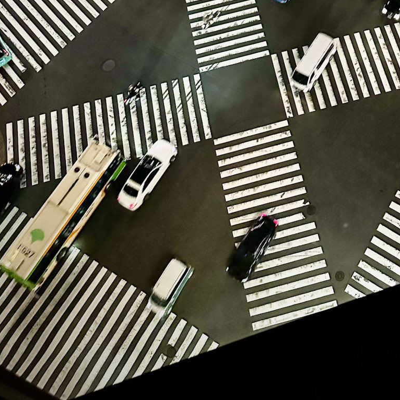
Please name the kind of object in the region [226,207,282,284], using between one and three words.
car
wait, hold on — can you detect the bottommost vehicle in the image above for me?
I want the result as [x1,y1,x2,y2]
[150,258,194,315]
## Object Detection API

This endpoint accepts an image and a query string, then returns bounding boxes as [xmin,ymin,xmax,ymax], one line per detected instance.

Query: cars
[291,29,340,92]
[226,207,282,284]
[384,0,400,22]
[0,162,30,223]
[0,38,13,66]
[150,258,194,315]
[119,145,174,210]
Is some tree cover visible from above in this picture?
No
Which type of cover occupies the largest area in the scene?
paved ground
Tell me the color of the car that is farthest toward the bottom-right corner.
black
